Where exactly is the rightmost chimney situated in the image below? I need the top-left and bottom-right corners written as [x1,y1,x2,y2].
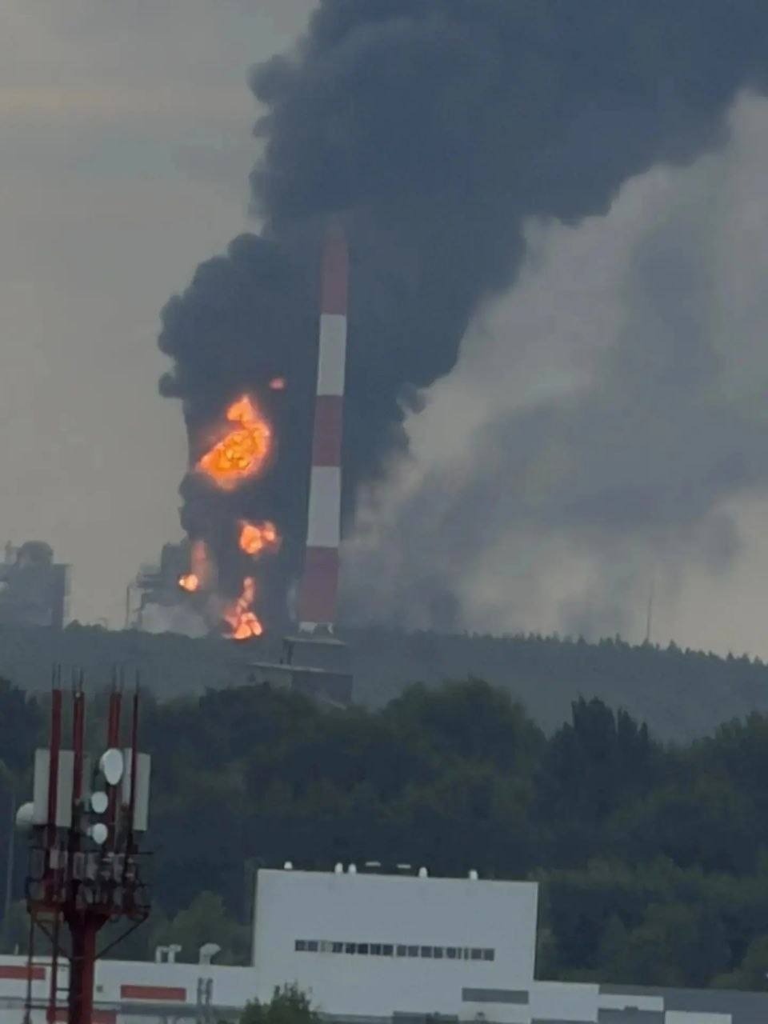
[294,209,349,672]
